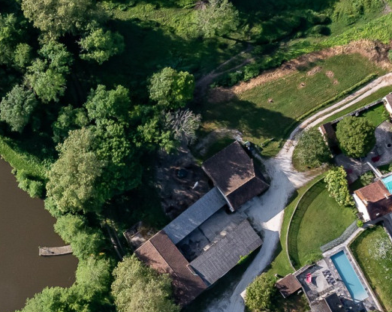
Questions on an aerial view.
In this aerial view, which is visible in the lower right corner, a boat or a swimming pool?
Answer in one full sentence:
The feature located in the lower right corner is a swimming pool.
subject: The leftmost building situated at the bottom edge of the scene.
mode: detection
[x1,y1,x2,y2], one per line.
[134,230,208,306]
